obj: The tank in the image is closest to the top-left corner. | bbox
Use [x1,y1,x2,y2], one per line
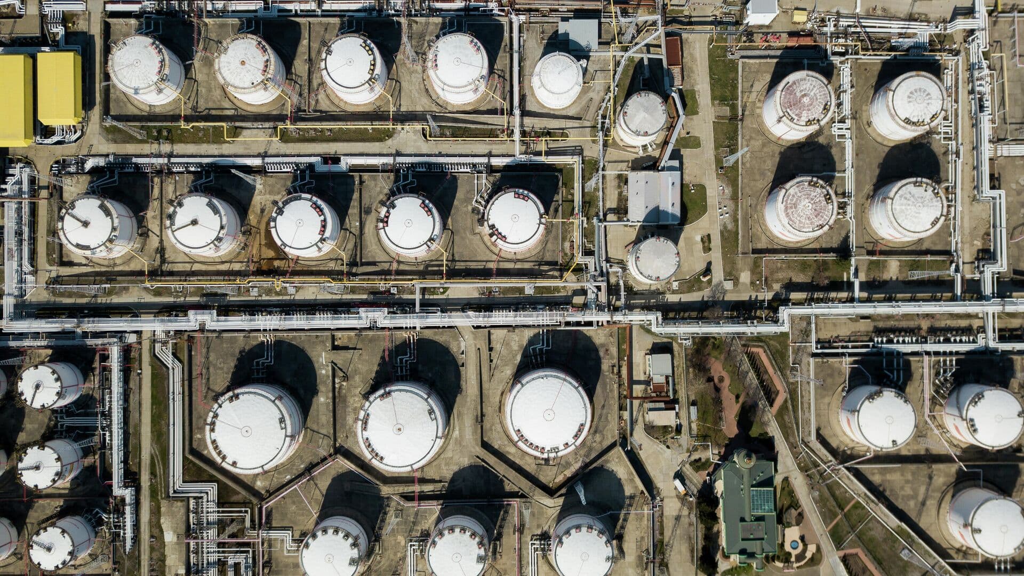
[106,34,193,113]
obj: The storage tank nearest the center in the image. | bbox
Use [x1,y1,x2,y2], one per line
[476,186,553,262]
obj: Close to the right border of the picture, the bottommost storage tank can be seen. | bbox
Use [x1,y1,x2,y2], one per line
[938,478,1024,561]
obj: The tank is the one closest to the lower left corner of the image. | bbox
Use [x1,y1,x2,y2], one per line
[0,509,28,567]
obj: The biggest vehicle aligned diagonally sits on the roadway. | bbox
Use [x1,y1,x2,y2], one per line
[674,478,688,496]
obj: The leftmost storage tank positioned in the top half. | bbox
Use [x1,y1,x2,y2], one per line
[57,190,147,267]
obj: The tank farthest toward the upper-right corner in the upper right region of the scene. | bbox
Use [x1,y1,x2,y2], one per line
[858,70,948,150]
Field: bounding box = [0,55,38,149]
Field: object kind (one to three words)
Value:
shed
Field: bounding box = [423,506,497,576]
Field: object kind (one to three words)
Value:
storage tank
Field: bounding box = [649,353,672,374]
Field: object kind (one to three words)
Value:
building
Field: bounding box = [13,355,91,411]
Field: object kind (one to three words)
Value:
storage tank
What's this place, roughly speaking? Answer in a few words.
industrial area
